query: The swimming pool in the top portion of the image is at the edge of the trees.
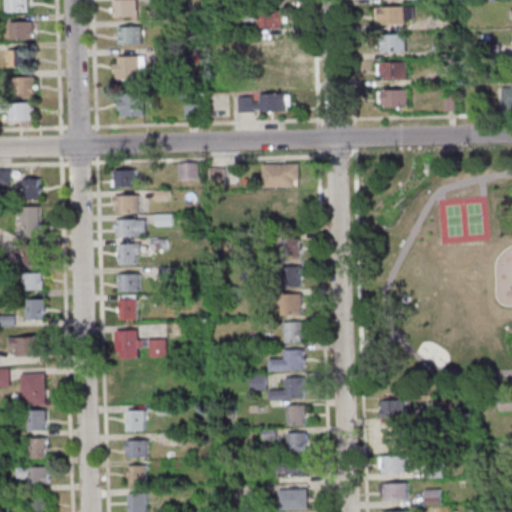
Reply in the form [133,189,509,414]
[184,190,198,206]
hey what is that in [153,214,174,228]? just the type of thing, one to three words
building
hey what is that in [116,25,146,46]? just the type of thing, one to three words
house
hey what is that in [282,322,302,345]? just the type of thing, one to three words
house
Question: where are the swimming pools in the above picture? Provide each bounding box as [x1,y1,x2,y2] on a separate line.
[184,190,198,206]
[14,468,27,481]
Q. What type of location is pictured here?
residential area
